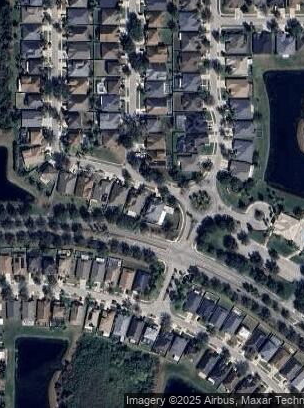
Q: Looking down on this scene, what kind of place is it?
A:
residential area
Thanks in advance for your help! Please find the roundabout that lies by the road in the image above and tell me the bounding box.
[180,180,221,220]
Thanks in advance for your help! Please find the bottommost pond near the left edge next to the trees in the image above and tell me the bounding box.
[14,335,67,408]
